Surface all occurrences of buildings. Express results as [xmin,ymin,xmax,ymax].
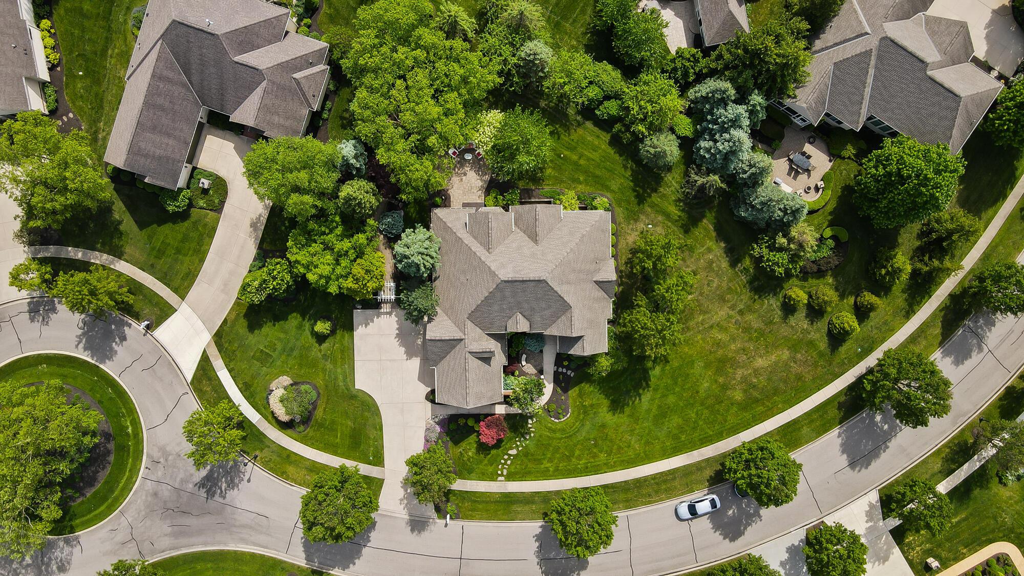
[426,204,616,409]
[103,0,340,191]
[763,0,1004,158]
[0,0,53,122]
[694,0,750,49]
